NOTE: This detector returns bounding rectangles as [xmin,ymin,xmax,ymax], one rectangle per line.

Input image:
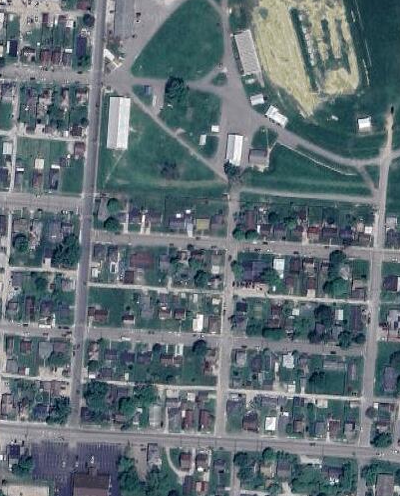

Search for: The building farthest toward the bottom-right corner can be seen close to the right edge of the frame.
[376,473,397,496]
